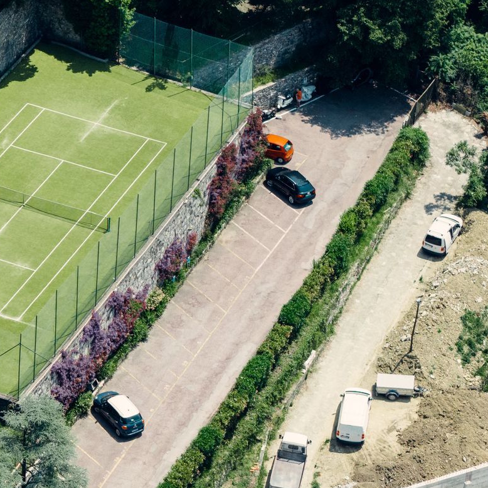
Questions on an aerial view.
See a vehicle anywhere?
Yes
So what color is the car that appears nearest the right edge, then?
white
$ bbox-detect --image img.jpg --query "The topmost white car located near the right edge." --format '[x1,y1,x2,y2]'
[419,215,466,260]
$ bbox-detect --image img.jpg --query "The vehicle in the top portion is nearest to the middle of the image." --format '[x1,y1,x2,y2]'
[265,165,320,205]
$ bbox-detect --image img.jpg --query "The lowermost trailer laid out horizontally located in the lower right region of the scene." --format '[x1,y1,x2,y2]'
[375,373,433,401]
